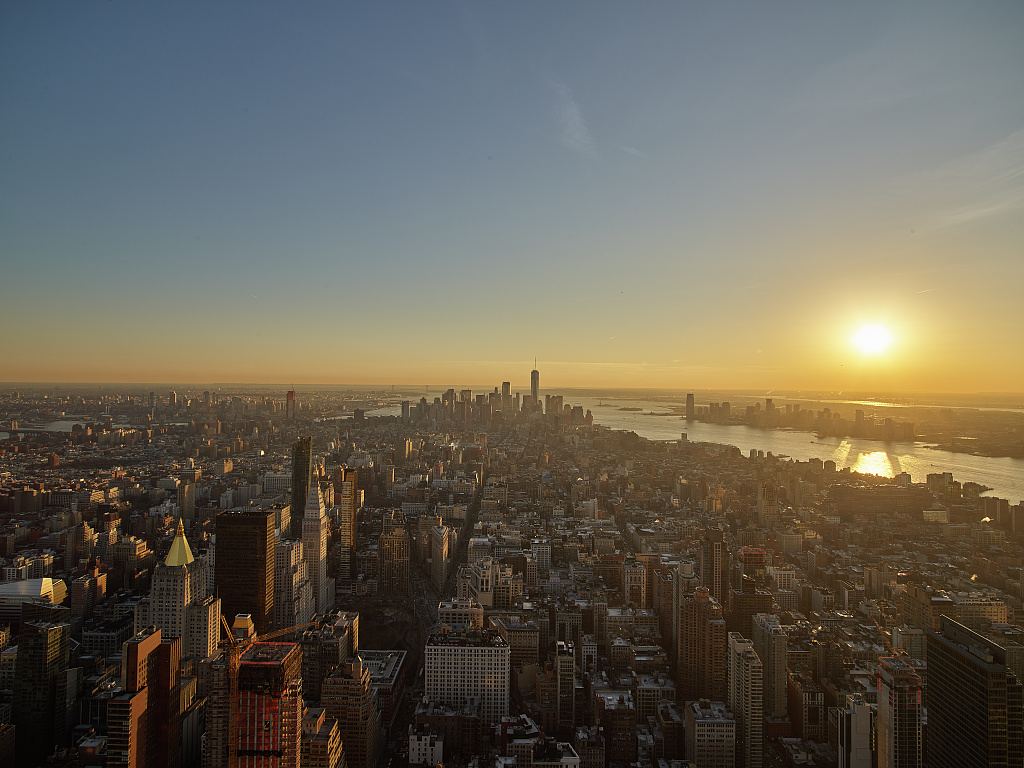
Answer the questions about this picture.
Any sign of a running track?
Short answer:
No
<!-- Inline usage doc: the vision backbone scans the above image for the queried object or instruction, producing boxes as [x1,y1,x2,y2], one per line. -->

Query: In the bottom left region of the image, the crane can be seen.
[215,616,316,768]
